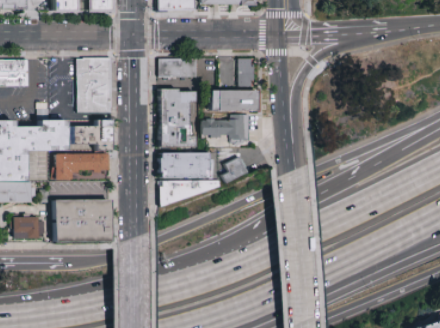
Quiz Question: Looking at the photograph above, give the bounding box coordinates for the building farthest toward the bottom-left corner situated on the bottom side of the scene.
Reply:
[12,217,44,240]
